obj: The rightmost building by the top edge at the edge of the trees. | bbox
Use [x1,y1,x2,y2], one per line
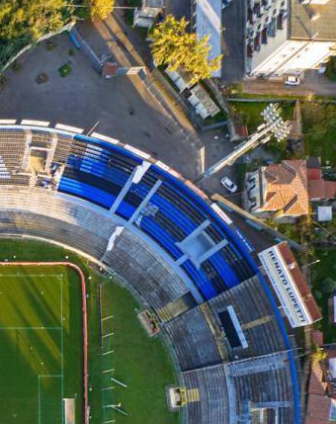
[247,0,336,78]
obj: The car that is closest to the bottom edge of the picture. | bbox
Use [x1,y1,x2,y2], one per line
[221,174,239,192]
